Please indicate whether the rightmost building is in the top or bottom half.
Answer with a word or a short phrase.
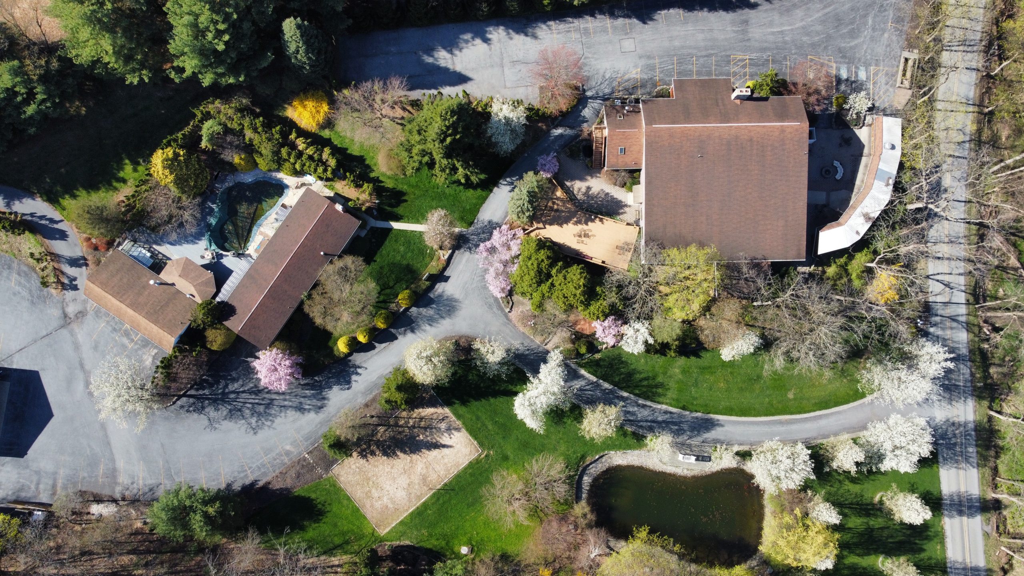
top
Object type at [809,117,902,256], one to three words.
building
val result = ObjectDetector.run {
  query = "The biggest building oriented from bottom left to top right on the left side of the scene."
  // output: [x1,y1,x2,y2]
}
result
[216,187,362,349]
